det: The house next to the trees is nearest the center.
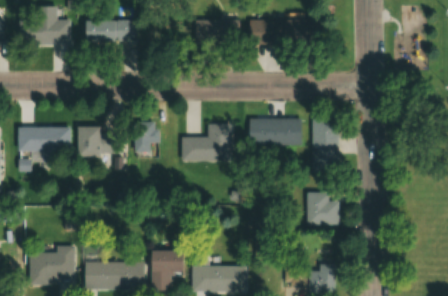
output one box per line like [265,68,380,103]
[182,124,232,162]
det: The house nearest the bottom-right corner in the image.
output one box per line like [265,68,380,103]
[309,264,336,294]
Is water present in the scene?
No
